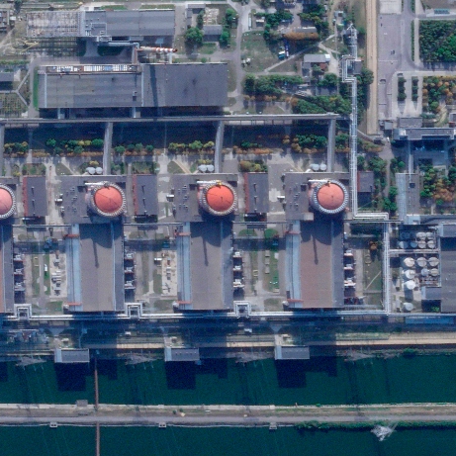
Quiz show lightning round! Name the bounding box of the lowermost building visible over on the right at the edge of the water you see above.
[274,345,308,358]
